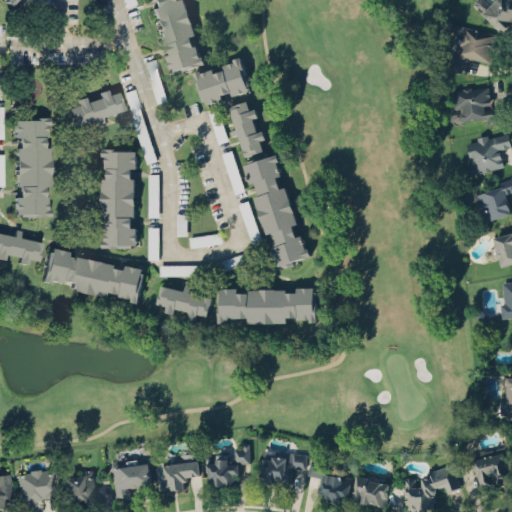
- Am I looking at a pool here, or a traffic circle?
pool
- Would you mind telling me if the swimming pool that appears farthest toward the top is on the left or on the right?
right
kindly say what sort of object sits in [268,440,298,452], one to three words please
swimming pool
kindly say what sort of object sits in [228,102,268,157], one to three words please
building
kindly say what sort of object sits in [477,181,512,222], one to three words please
house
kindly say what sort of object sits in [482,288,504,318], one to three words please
swimming pool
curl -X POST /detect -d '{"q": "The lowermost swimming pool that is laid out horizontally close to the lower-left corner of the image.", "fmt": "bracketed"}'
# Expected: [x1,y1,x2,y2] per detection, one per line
[21,461,50,473]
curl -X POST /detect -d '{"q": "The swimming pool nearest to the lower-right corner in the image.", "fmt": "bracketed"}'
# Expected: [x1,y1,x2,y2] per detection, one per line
[478,433,504,450]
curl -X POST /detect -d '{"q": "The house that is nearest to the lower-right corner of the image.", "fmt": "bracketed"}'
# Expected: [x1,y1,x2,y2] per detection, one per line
[476,453,508,488]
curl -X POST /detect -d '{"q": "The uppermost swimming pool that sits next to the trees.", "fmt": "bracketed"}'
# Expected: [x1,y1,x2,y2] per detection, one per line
[469,234,497,264]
